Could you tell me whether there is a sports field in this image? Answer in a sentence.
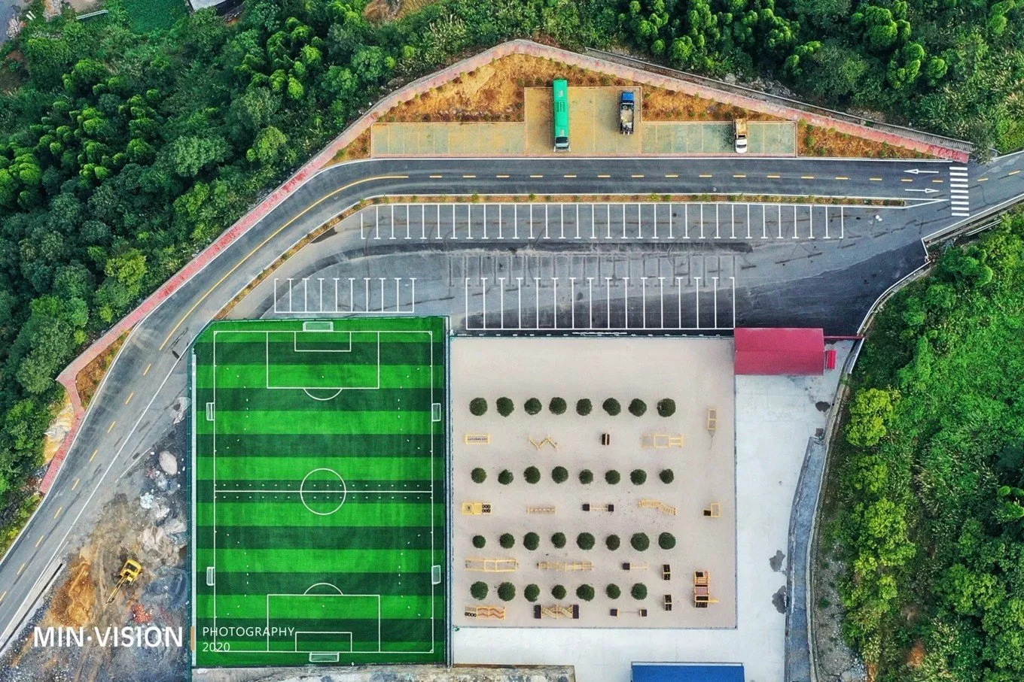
Yes, the image includes a sports field.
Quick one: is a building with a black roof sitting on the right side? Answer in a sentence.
No, I see no building with a black roof on the right side.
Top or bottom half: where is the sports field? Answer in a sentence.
You can find the sports field in the bottom half.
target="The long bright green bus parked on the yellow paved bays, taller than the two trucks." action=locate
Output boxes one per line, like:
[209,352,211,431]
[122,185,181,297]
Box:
[554,81,572,151]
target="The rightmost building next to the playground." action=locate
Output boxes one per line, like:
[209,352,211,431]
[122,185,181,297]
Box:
[734,327,827,375]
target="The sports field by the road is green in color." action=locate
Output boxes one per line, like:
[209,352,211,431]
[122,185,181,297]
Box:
[196,317,446,667]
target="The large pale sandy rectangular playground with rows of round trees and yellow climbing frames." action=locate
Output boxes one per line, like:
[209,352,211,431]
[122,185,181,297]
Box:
[452,338,737,630]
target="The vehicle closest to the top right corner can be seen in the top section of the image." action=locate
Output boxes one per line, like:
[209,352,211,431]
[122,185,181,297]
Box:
[736,116,750,152]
